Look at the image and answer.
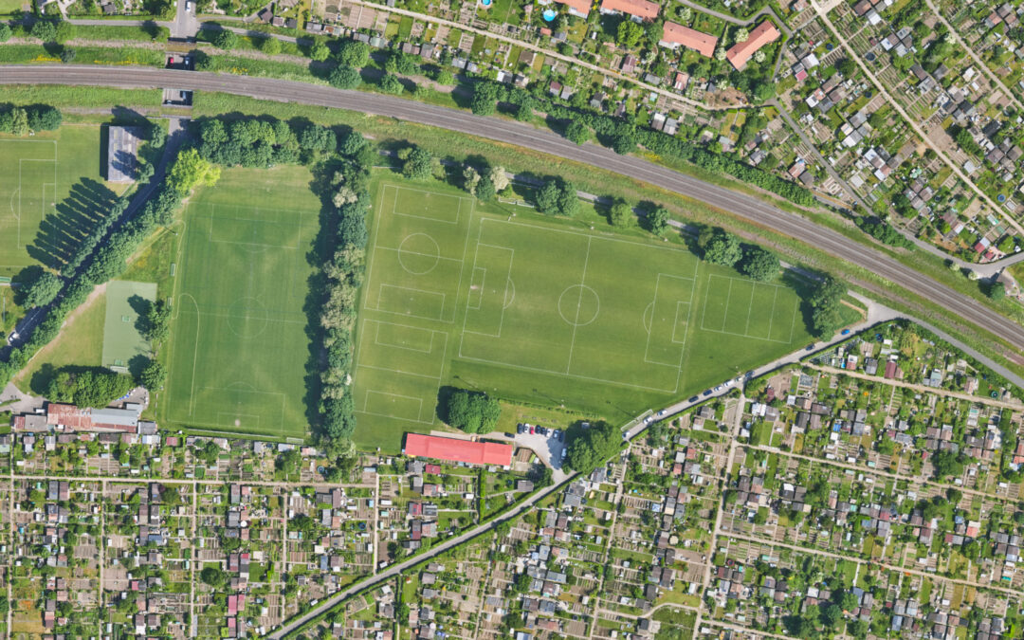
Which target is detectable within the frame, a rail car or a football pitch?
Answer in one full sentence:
Of the two, only a football pitch appears.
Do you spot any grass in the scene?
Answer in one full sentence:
Yes, grass can be seen from above here.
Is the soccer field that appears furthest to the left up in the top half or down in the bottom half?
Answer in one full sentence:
Seen from above, the soccer field that appears furthest to the left lies in the top half of the view.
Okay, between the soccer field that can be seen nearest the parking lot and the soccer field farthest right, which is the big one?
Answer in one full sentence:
The soccer field farthest right takes up more space than the soccer field that can be seen nearest the parking lot does.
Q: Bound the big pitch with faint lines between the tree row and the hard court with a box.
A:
[160,202,328,439]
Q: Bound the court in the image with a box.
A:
[102,280,158,371]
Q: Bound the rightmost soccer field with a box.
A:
[455,215,702,395]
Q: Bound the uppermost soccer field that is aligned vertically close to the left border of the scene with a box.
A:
[0,138,59,270]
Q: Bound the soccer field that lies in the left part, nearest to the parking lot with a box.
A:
[352,318,448,425]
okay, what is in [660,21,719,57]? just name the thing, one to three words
house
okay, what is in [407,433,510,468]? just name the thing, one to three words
building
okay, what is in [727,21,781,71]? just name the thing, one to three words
house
